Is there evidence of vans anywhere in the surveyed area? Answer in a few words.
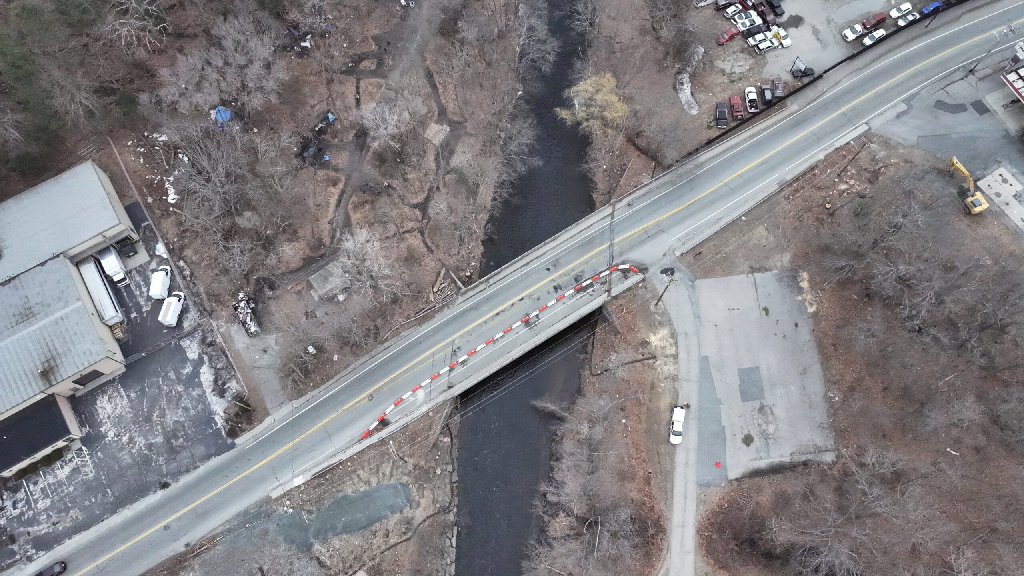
Yes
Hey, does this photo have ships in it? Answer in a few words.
No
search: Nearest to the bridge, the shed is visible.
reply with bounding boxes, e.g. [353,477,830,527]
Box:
[309,261,351,296]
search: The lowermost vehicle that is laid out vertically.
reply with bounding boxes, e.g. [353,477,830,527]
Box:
[670,406,686,445]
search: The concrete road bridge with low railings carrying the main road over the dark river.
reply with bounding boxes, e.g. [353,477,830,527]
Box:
[429,179,622,452]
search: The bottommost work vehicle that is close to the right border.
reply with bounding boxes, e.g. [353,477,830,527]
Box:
[943,157,988,221]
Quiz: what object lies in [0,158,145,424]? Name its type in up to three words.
warehouse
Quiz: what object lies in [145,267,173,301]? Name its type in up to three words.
van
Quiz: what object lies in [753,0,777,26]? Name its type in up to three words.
truck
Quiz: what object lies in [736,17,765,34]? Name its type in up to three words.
car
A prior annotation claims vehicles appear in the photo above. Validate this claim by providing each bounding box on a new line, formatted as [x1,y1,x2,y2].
[765,0,788,18]
[745,32,774,50]
[729,95,746,122]
[759,83,775,106]
[943,157,988,221]
[843,16,878,41]
[772,26,792,48]
[740,24,771,42]
[99,249,133,289]
[861,27,888,47]
[712,0,740,13]
[670,406,686,445]
[155,293,185,328]
[693,0,717,8]
[714,26,741,46]
[771,76,785,100]
[753,0,777,26]
[736,17,765,34]
[721,3,744,20]
[894,10,922,27]
[35,560,69,576]
[790,67,817,81]
[887,0,916,20]
[738,0,752,11]
[145,267,173,301]
[744,86,760,114]
[863,10,889,32]
[730,10,759,27]
[753,39,782,58]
